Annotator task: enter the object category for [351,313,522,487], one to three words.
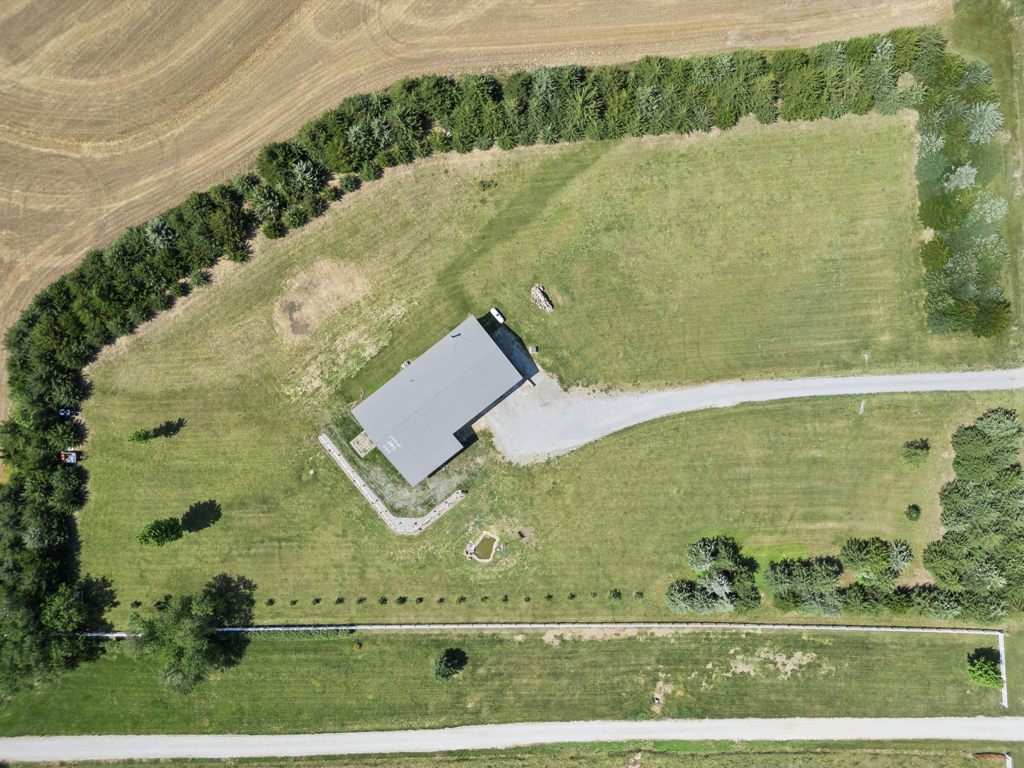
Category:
house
